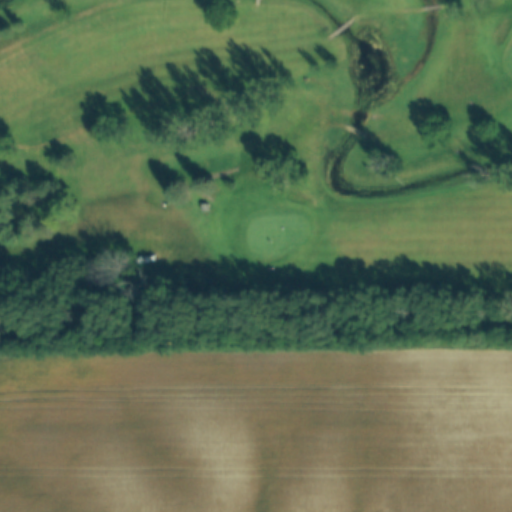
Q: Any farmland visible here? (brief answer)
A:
Yes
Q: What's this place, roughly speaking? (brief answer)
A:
golf course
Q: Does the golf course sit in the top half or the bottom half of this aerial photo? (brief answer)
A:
top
